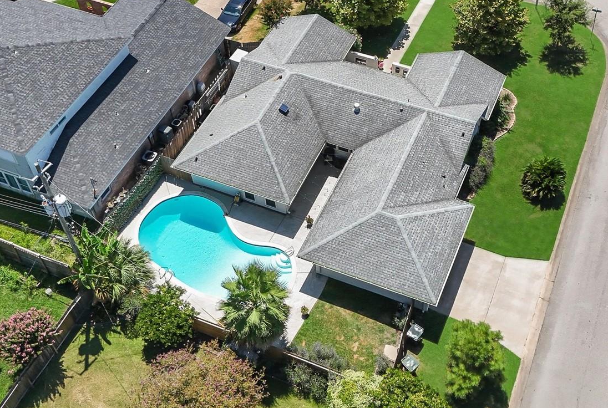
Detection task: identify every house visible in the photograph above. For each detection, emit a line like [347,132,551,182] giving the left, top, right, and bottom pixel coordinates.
[0,0,232,225]
[171,13,506,315]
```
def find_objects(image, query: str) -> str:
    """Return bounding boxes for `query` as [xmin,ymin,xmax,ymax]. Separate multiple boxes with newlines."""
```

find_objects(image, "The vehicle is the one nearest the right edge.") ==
[217,0,256,31]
